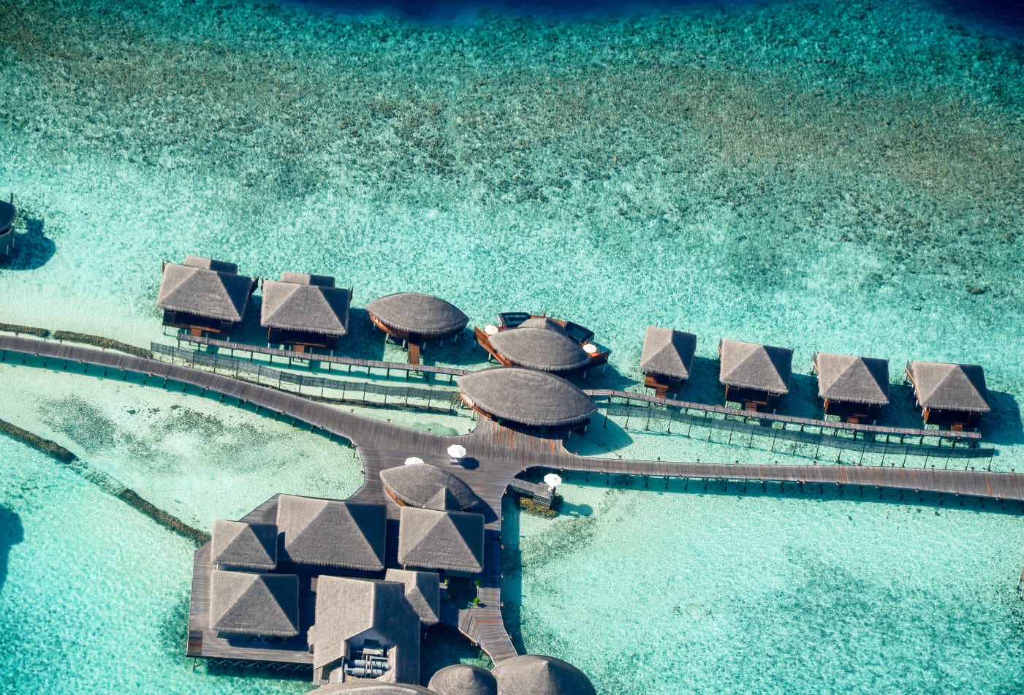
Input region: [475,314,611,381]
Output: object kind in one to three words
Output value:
building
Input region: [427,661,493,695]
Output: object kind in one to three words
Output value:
building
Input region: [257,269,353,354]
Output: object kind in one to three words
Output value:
house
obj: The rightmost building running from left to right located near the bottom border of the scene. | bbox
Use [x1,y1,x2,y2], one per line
[491,651,599,695]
